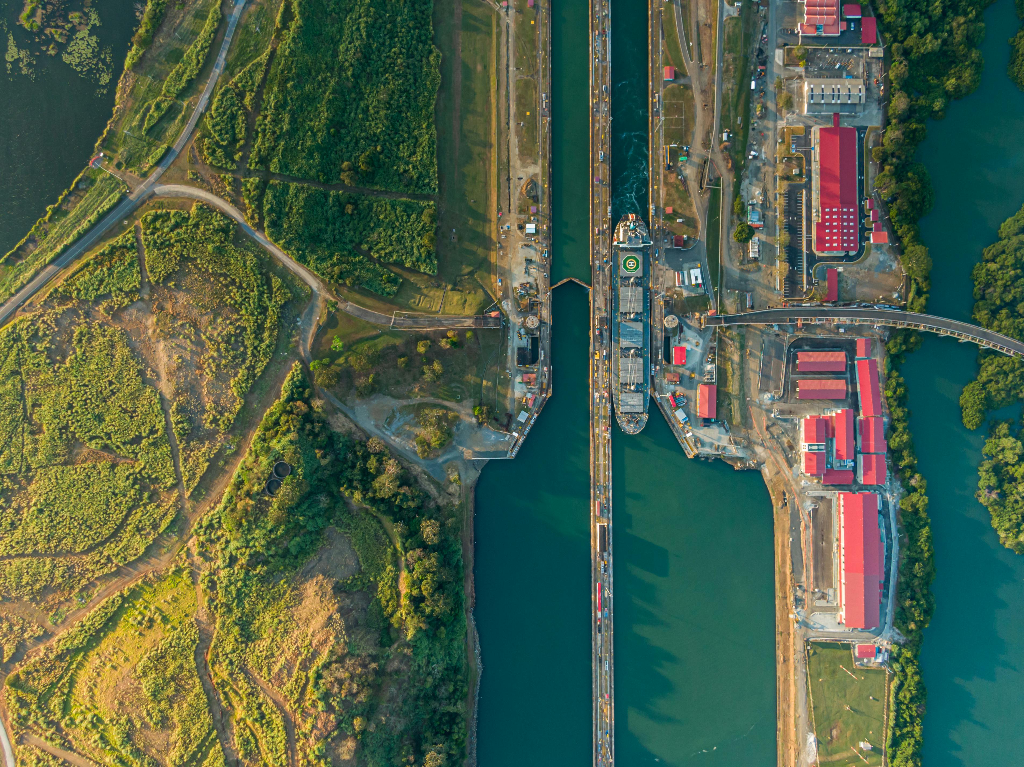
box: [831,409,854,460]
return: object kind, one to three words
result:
building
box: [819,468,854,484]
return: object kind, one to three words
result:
building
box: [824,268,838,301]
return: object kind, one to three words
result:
shed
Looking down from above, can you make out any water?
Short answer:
Yes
